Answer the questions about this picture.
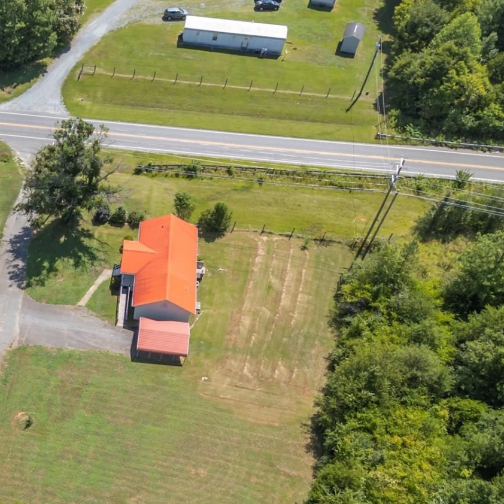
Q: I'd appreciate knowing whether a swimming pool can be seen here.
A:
No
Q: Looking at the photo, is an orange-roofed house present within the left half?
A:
Yes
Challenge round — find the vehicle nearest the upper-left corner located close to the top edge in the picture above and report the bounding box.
[164,8,187,21]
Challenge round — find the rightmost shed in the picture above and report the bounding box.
[340,24,366,54]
